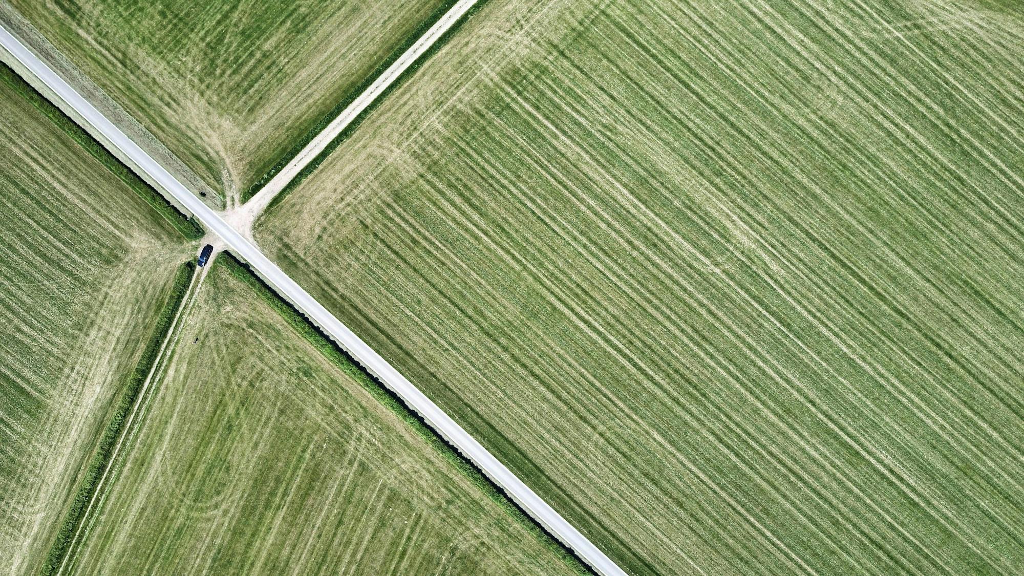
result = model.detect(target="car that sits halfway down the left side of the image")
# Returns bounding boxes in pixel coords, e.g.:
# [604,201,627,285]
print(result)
[198,245,213,267]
